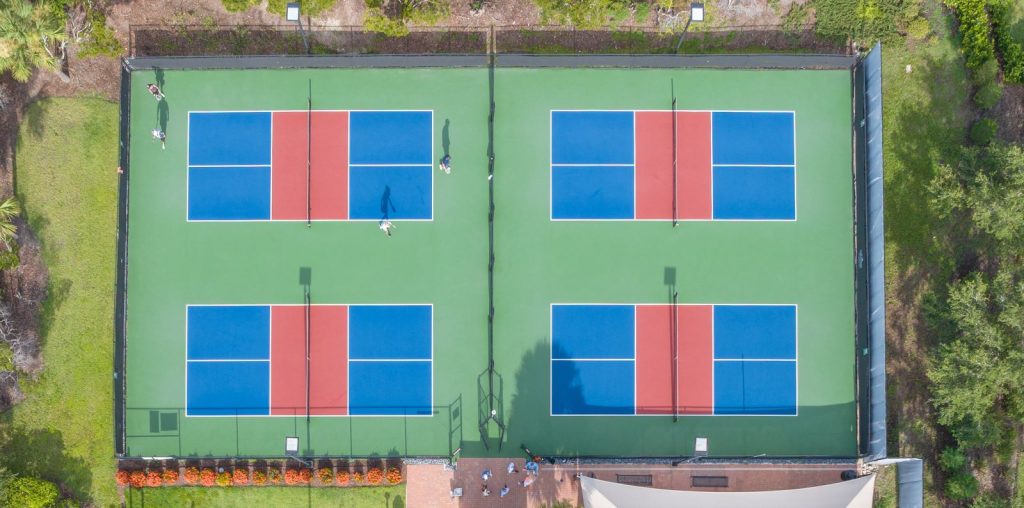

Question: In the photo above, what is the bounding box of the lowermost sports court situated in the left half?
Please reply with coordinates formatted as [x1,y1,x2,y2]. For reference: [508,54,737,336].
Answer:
[186,304,433,416]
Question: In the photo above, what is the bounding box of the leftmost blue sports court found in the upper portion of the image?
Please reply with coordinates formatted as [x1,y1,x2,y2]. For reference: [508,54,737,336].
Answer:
[187,110,433,220]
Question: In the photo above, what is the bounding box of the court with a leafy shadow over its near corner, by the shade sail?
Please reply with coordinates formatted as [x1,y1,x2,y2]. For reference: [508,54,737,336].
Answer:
[551,304,798,416]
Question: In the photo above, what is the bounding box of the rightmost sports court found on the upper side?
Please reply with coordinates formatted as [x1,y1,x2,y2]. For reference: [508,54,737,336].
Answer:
[551,110,796,220]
